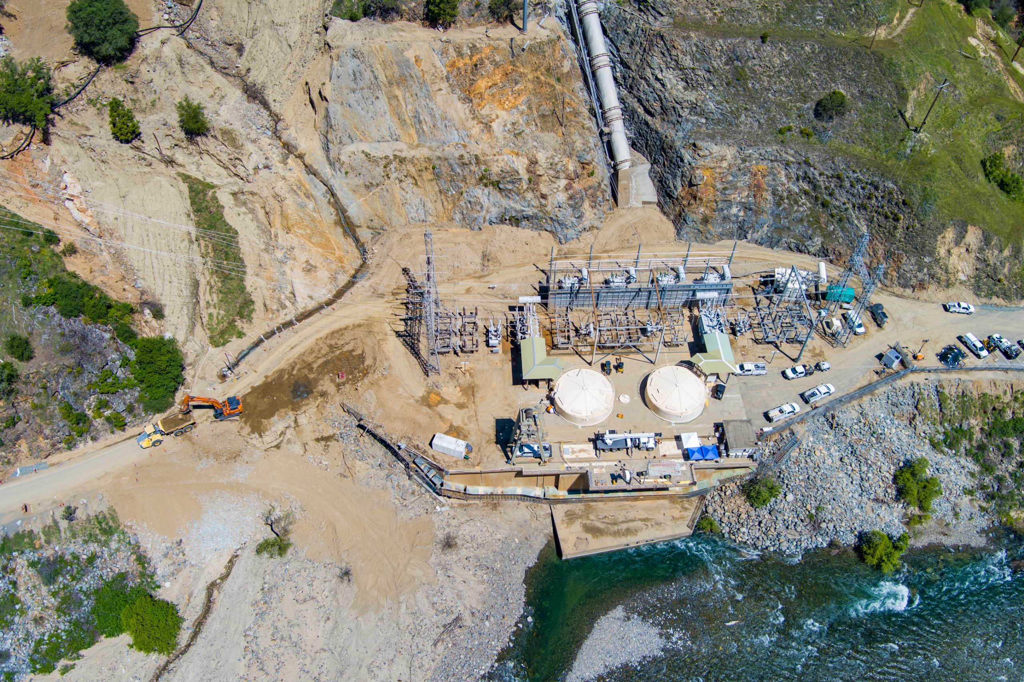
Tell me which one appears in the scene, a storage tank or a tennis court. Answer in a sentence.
The image shows a storage tank.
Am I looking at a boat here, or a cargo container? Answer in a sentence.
This aerial view contains a cargo container.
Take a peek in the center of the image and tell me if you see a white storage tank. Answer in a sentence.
Yes, you'll find a white storage tank in the center of the image.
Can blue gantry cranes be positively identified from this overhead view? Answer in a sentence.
No, the picture doesn't show any blue gantry crane.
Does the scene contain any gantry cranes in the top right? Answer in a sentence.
No, the scene shows no gantry crane in the top right.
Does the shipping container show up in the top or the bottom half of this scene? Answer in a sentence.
It is in the bottom half that the shipping container appears.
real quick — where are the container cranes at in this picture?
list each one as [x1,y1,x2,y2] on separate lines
[508,404,548,463]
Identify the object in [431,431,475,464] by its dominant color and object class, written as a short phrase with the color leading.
white shipping container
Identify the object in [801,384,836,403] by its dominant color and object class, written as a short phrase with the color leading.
white vehicle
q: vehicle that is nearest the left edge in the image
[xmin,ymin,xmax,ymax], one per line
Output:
[137,412,197,449]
